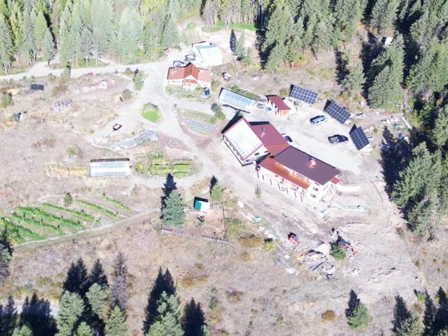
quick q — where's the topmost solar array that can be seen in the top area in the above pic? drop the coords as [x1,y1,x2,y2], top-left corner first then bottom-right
[290,85,318,104]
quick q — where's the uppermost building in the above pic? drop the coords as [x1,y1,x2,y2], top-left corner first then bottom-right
[195,43,222,72]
